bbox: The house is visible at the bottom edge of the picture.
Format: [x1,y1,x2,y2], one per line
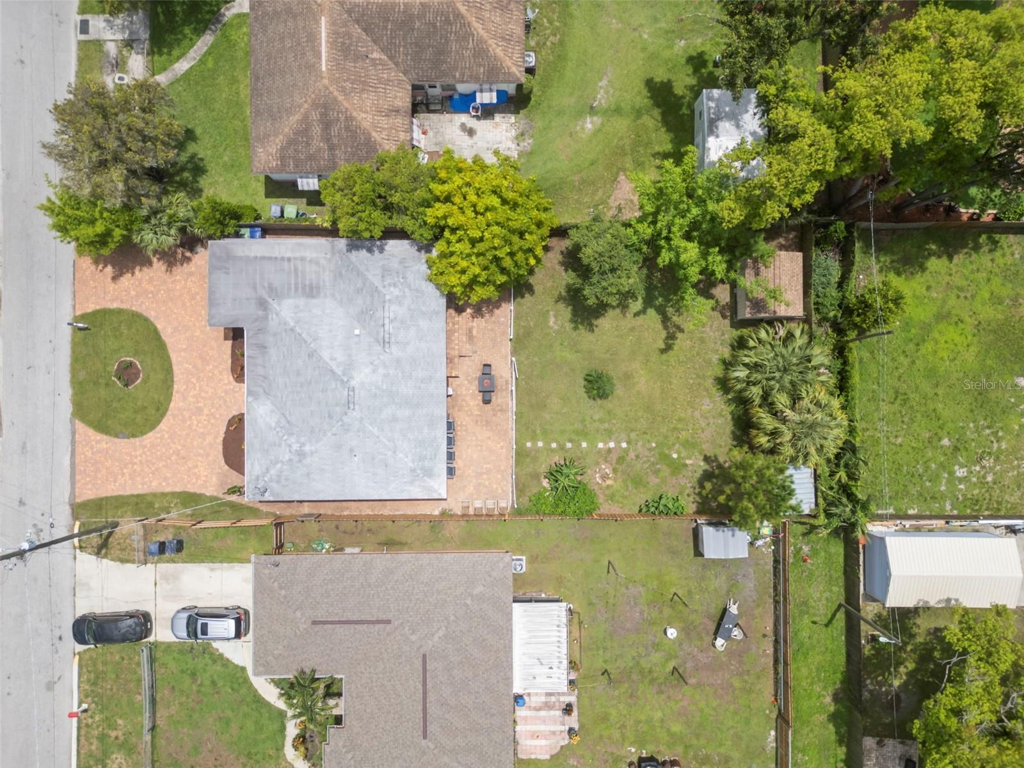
[251,551,515,768]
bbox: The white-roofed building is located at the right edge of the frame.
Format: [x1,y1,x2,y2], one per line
[864,530,1024,608]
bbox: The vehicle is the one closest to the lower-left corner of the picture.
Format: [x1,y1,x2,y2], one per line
[74,608,155,648]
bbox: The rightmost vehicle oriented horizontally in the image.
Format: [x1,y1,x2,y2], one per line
[173,605,252,643]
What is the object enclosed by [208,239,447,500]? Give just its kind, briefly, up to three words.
house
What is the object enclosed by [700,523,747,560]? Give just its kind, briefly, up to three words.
shed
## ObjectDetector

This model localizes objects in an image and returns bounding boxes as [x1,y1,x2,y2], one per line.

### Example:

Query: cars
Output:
[173,605,252,643]
[74,608,155,648]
